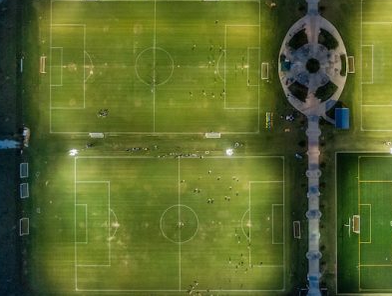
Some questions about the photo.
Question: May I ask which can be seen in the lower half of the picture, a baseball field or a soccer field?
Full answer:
Looking in the lower half of the picture, you will find a soccer field.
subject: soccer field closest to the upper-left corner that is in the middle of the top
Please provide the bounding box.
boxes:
[50,0,260,133]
